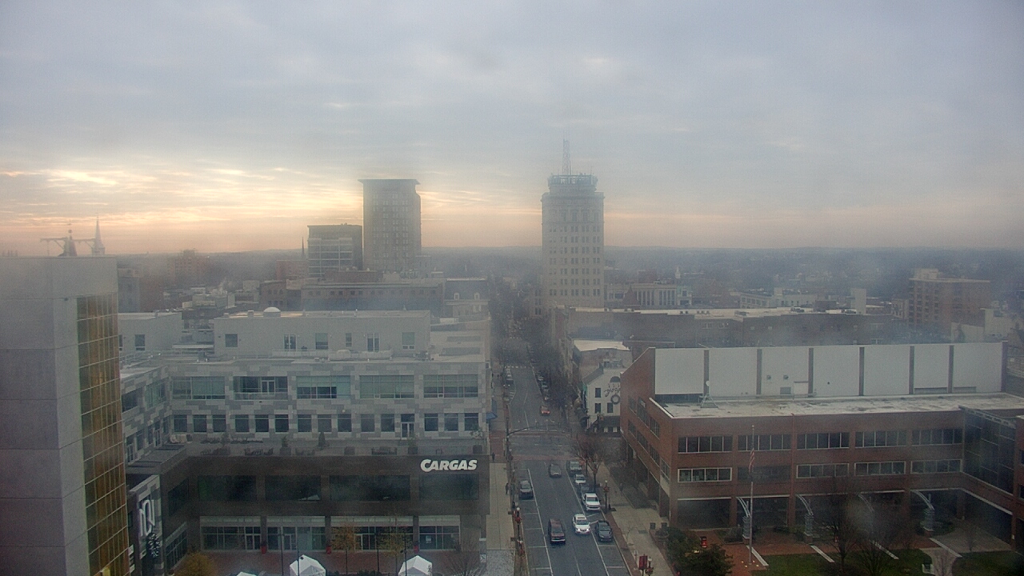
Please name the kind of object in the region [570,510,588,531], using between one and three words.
car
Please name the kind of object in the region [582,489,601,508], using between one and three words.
vehicle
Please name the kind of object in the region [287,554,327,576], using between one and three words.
tent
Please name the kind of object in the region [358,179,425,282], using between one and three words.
building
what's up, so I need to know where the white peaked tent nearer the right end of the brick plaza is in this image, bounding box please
[397,553,435,576]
